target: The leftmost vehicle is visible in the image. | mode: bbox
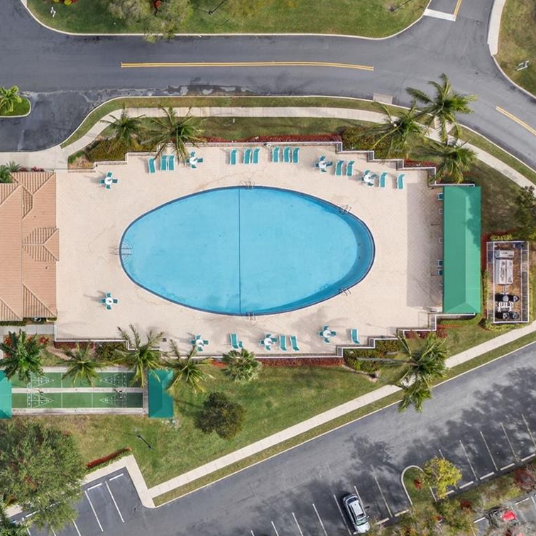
[342,492,370,534]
